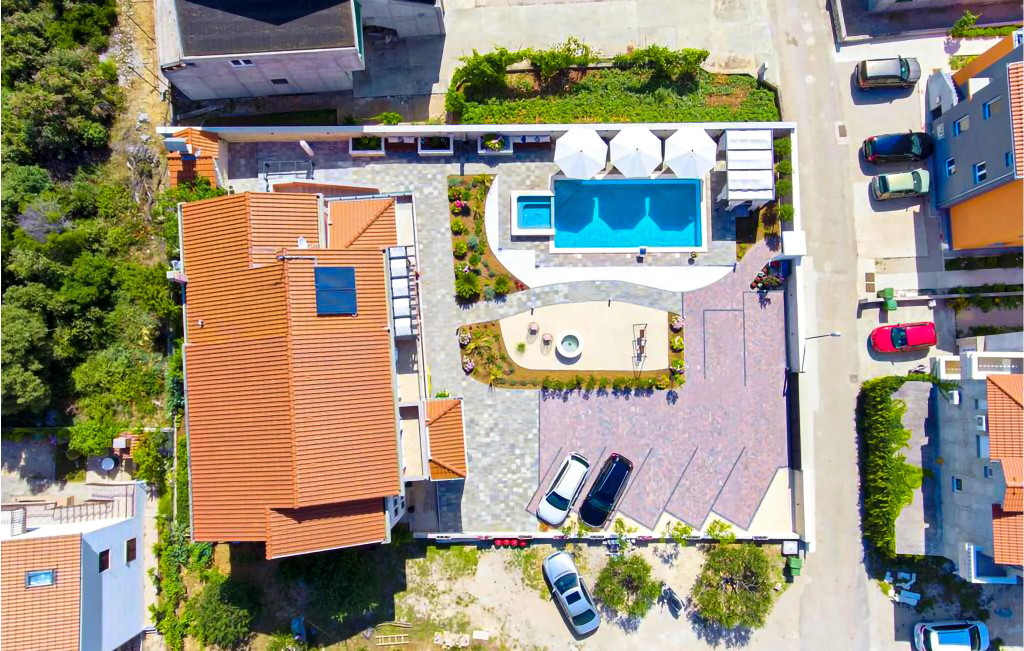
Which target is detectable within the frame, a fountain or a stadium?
fountain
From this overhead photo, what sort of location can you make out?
residential area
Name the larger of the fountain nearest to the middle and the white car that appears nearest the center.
the car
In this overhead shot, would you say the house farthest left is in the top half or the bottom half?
bottom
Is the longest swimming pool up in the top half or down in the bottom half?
top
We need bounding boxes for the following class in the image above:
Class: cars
[905,618,989,651]
[536,450,592,529]
[580,449,634,530]
[854,126,931,166]
[863,165,929,202]
[541,546,601,639]
[846,52,921,95]
[864,317,939,354]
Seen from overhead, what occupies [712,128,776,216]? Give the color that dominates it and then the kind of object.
white gazebo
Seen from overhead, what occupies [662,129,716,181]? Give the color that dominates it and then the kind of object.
white umbrella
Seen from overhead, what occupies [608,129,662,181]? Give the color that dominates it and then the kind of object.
white umbrella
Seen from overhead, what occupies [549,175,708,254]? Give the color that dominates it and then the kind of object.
blue swimming pool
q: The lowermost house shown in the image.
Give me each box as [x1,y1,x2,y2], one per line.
[0,514,146,651]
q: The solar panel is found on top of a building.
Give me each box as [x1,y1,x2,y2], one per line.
[315,266,358,317]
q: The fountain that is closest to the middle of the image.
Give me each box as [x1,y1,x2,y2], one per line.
[556,330,584,358]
